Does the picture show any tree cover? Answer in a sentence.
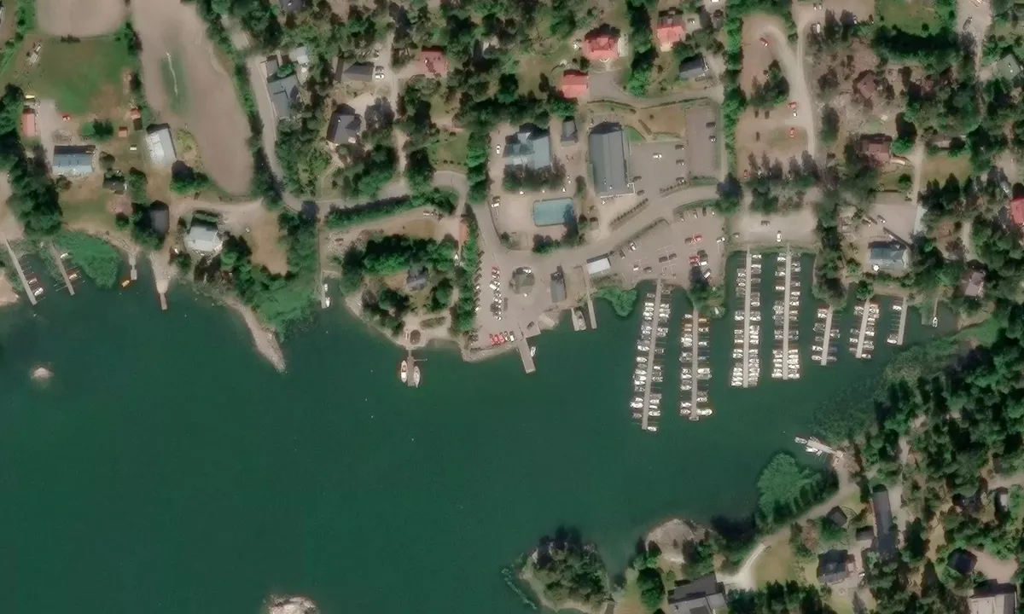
Yes, tree cover can be seen from above here.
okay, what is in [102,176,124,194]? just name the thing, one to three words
building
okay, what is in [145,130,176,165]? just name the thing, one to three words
barn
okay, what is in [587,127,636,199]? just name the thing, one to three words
building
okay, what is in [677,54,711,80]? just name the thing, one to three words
house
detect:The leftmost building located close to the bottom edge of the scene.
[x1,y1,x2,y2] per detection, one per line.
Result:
[665,574,730,614]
